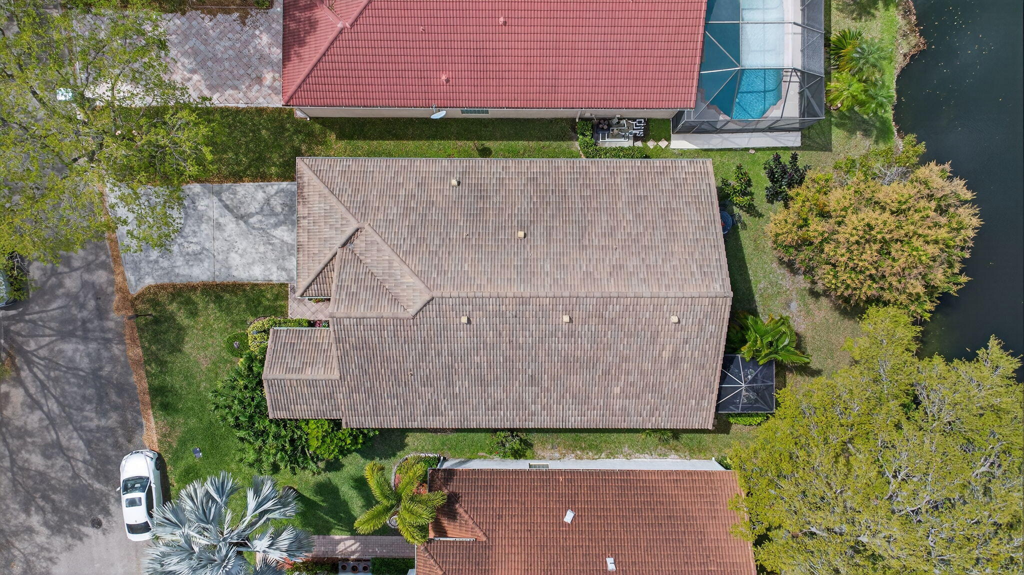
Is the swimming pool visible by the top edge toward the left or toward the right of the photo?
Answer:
right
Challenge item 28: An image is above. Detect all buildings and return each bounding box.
[260,157,735,430]
[280,0,708,124]
[414,455,754,575]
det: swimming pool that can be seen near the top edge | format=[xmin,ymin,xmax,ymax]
[697,0,791,125]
